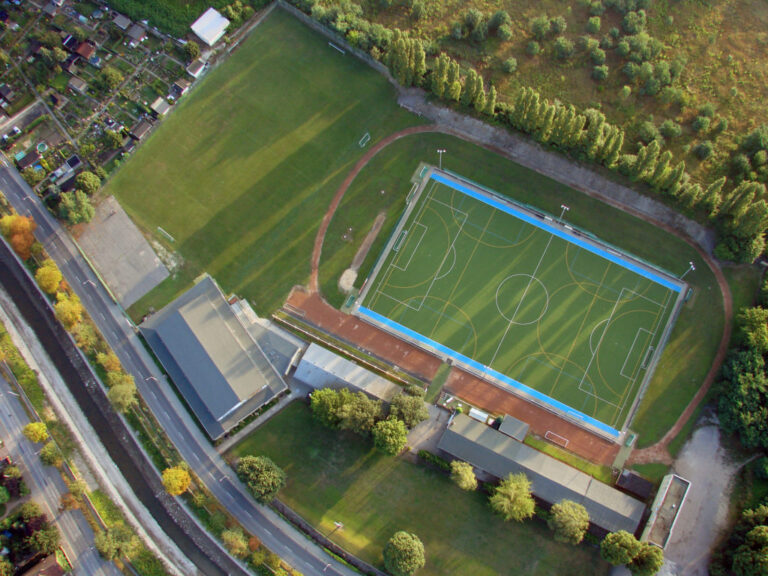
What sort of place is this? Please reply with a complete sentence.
This image shows a sports ground.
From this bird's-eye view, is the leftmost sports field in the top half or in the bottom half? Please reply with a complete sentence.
Seen from above, the leftmost sports field lies in the top half of the view.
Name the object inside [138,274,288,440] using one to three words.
building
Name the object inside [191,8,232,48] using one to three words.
building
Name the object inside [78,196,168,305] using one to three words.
sports court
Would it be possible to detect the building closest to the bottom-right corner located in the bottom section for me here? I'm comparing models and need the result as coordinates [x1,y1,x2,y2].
[640,475,692,549]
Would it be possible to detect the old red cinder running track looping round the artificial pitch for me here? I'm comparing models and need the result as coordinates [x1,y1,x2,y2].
[282,124,732,465]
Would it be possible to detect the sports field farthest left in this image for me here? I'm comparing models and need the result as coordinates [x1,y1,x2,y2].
[104,8,397,325]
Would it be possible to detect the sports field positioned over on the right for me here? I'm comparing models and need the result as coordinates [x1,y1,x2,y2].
[349,165,692,447]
